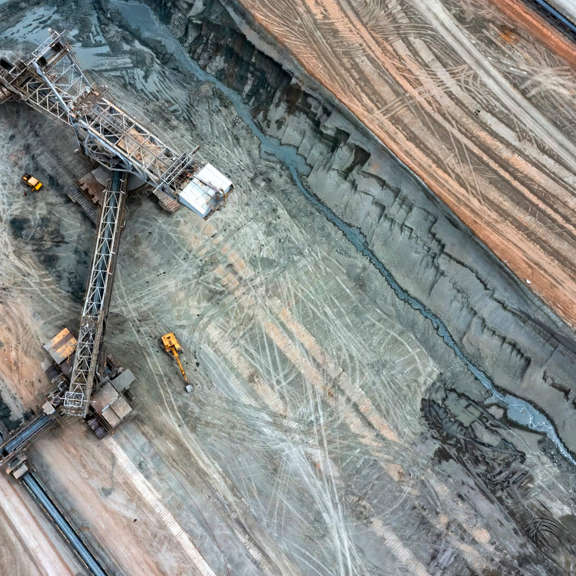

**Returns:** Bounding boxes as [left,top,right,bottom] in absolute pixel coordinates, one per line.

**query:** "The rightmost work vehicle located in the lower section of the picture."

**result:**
[158,335,194,400]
